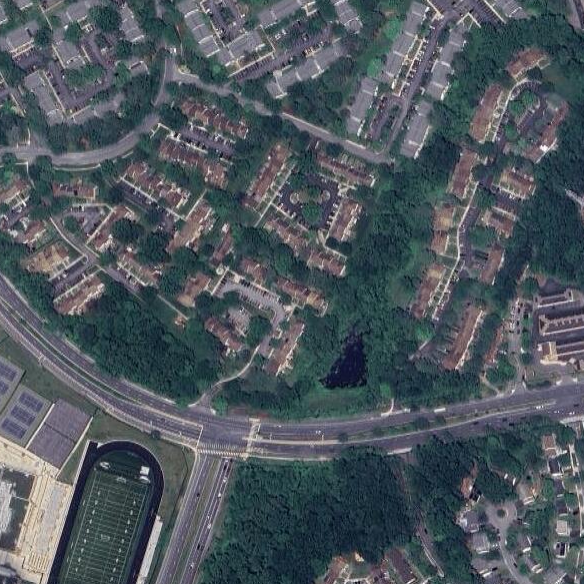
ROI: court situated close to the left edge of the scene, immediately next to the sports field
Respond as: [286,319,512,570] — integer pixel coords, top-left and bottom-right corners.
[28,399,91,461]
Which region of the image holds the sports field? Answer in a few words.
bottom left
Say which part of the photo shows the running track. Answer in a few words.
bottom left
